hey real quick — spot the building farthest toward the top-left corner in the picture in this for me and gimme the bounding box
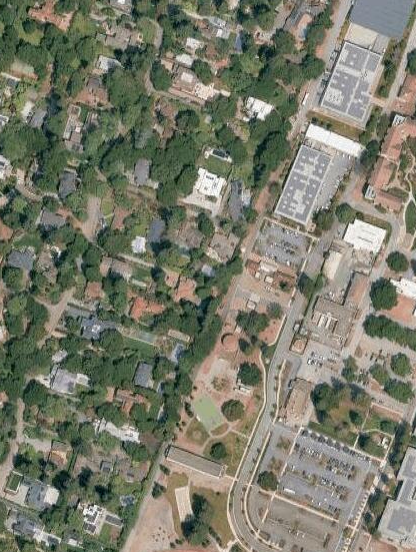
[27,0,76,31]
